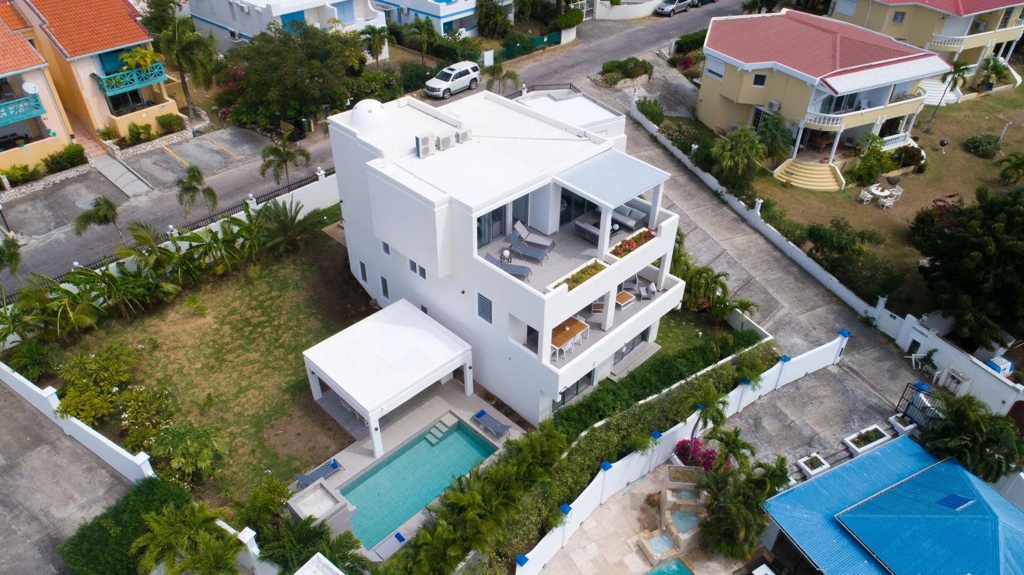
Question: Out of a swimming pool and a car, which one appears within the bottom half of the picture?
swimming pool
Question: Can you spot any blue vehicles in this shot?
No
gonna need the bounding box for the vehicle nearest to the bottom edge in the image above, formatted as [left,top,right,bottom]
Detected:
[420,59,483,100]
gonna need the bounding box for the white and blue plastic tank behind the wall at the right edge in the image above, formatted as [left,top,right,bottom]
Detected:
[984,352,1023,379]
